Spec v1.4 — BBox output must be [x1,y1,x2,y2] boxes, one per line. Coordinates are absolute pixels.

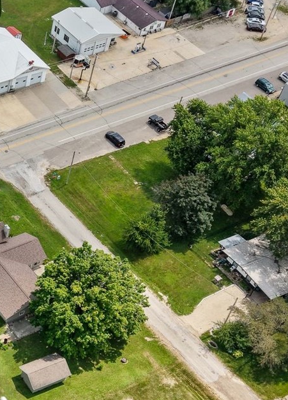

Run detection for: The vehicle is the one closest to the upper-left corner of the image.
[104,132,127,147]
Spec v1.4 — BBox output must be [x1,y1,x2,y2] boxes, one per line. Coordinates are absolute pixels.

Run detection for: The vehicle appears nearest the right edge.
[275,68,288,82]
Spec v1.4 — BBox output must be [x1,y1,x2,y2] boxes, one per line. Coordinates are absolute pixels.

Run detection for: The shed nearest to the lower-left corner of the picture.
[20,354,70,395]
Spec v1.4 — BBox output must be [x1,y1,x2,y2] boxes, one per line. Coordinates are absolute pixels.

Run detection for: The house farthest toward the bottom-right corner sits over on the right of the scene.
[217,231,288,308]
